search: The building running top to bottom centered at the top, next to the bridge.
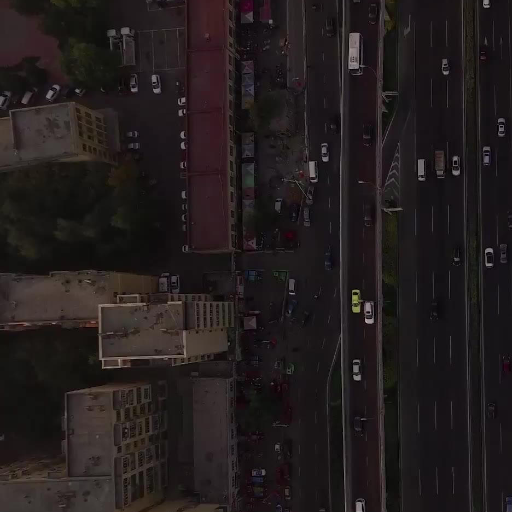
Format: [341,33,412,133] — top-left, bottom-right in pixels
[186,0,241,255]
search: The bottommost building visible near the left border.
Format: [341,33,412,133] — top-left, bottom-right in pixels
[0,380,172,512]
